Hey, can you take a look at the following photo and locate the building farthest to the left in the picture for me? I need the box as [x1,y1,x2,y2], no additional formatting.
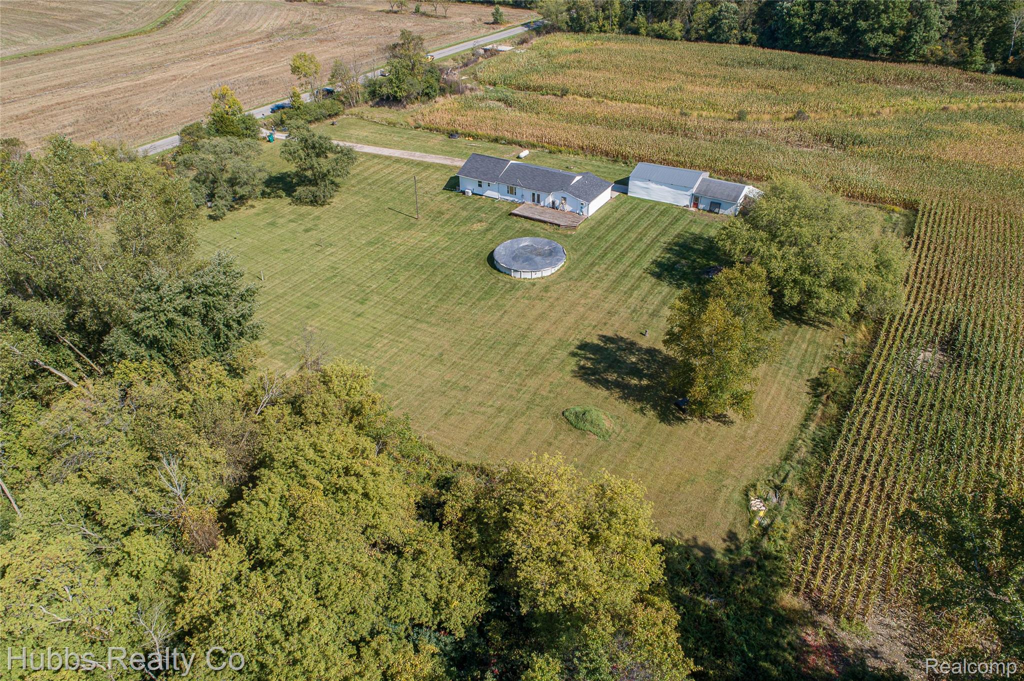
[455,153,615,220]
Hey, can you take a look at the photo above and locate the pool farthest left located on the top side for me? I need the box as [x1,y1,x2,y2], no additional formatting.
[492,237,567,279]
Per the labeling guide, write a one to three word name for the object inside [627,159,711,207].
barn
